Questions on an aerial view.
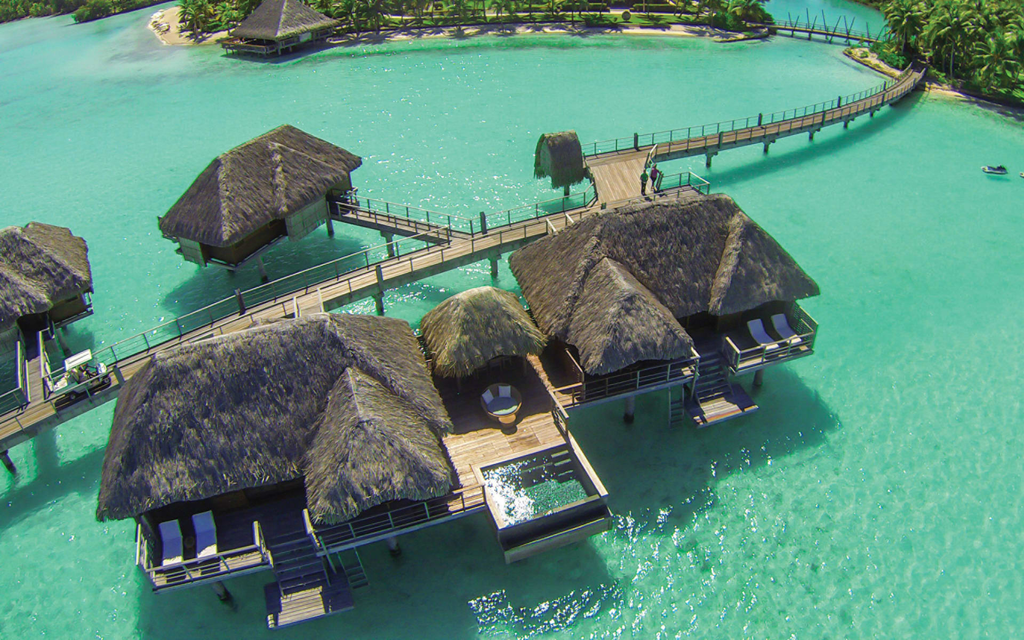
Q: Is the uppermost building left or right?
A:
left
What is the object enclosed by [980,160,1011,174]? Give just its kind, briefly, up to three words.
boat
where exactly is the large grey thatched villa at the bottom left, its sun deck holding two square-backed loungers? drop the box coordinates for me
[92,310,484,640]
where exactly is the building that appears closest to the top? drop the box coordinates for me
[218,0,343,67]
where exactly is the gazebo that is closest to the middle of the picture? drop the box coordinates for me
[418,283,549,401]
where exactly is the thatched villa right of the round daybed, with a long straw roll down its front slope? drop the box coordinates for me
[508,193,822,442]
